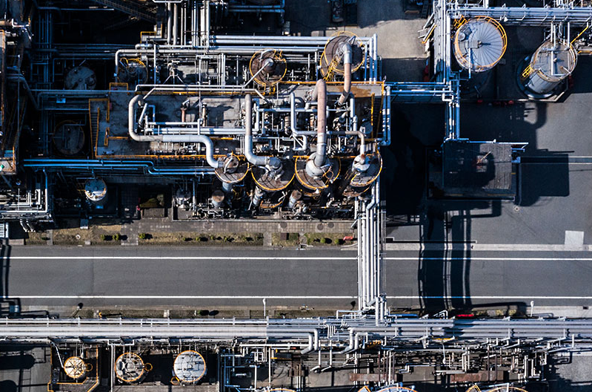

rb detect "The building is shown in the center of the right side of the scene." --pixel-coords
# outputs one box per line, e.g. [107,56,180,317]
[430,140,526,201]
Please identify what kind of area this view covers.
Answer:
industrial area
